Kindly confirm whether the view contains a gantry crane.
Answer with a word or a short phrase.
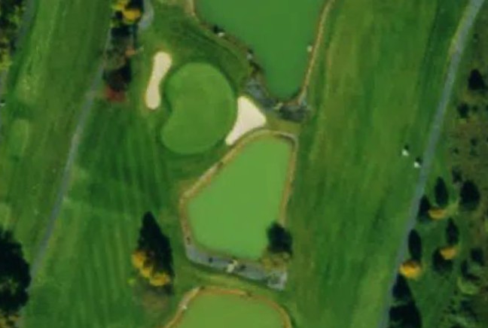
No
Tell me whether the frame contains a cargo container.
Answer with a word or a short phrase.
No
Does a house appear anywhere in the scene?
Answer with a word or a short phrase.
No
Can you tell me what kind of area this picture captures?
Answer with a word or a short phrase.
golf course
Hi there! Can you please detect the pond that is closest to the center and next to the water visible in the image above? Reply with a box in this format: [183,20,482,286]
[182,132,299,265]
